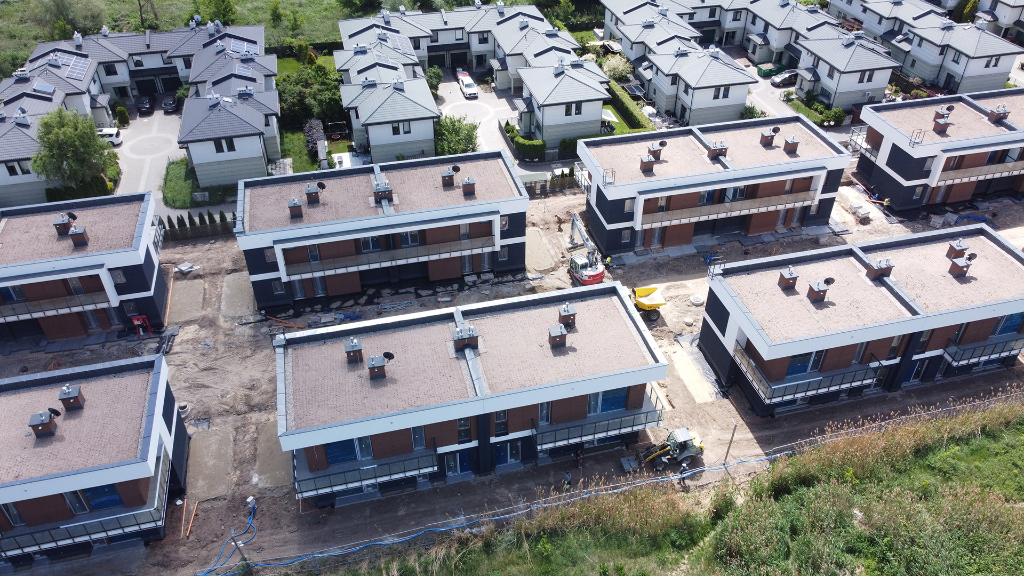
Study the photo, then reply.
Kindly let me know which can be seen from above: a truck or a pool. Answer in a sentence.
The image shows a truck.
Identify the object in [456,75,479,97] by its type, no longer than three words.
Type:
car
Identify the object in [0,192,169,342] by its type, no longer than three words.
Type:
house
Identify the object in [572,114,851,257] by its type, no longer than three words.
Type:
house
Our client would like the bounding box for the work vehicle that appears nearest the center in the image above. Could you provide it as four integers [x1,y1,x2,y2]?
[559,222,608,288]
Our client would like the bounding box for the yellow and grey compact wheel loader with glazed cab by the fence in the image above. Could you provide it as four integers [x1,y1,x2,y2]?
[639,424,705,472]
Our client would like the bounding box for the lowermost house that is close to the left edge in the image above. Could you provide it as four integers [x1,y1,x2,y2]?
[0,355,190,576]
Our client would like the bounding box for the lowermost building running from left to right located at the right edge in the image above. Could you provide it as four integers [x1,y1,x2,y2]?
[697,225,1024,420]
